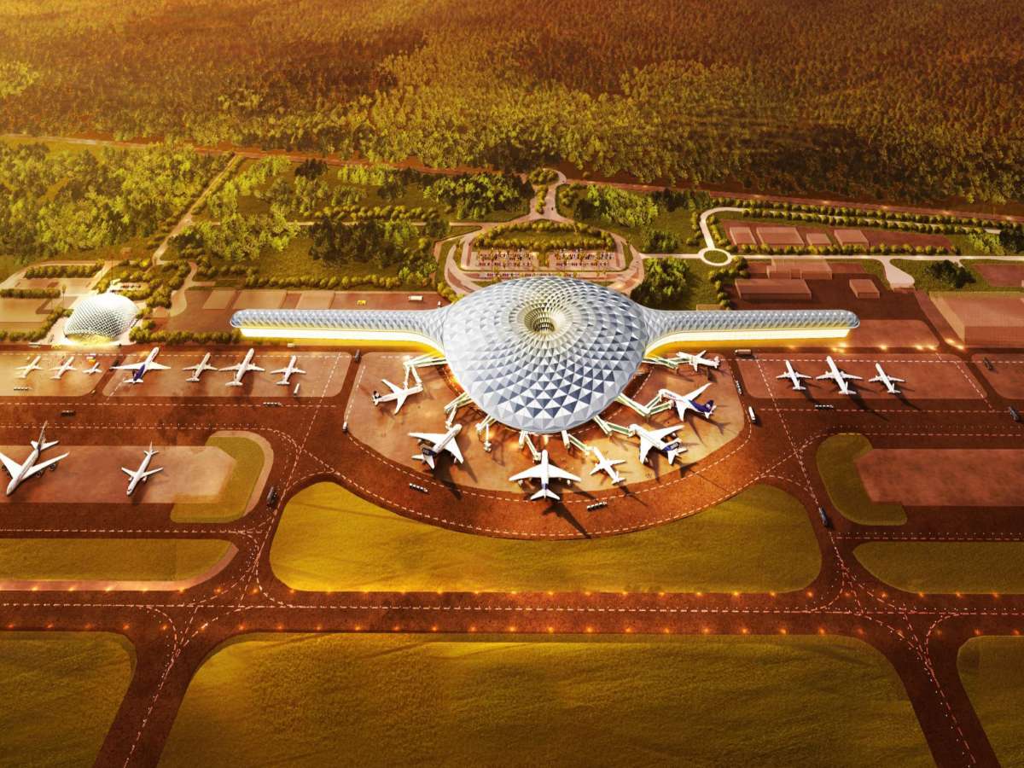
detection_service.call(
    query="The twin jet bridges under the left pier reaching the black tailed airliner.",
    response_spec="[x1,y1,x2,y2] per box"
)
[403,351,444,389]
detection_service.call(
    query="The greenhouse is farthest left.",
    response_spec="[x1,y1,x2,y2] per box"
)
[65,295,141,340]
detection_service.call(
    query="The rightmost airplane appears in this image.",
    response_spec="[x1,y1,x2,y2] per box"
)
[865,363,908,393]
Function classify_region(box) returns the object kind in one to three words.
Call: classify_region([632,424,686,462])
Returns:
airplane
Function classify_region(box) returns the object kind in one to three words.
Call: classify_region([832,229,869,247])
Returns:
building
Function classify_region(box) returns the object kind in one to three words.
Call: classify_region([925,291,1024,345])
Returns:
hangar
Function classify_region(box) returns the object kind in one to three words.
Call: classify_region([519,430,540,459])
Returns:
jet bridge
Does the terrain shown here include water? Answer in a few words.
No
